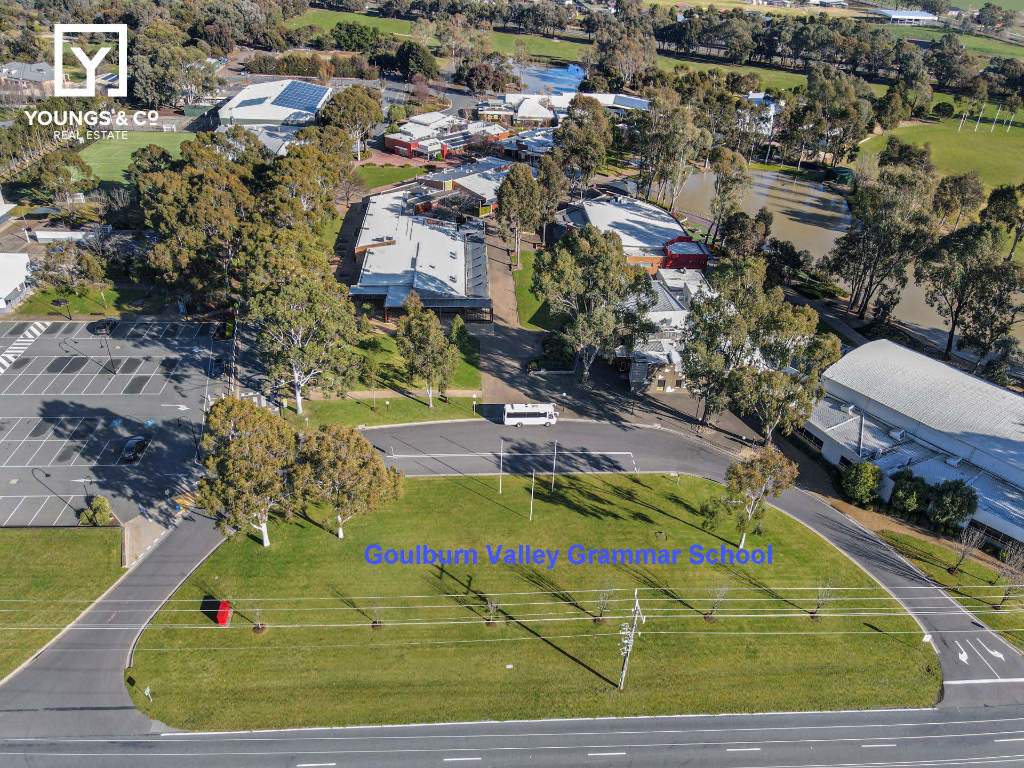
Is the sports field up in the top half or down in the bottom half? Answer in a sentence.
Seen from above, the sports field lies in the top half of the view.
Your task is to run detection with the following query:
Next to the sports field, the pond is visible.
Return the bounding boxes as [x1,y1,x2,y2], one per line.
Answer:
[678,169,1024,375]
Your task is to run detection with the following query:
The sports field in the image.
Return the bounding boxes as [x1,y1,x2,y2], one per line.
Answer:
[859,115,1024,255]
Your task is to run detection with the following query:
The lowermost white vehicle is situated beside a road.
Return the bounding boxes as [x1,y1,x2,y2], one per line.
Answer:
[505,399,559,425]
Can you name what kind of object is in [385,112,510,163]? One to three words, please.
building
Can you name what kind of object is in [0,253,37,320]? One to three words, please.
building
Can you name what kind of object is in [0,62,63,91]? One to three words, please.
house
